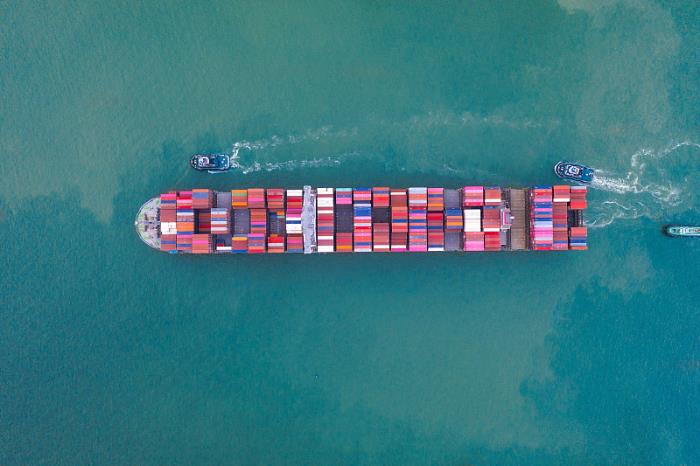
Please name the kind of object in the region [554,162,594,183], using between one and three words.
boat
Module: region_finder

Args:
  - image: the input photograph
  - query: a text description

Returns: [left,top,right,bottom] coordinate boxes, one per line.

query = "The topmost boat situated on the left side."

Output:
[192,154,232,172]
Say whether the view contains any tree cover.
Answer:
No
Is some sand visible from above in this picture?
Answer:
No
